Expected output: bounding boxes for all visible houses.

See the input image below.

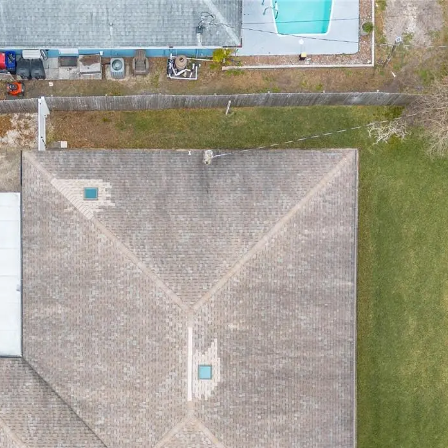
[0,148,359,448]
[0,0,243,61]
